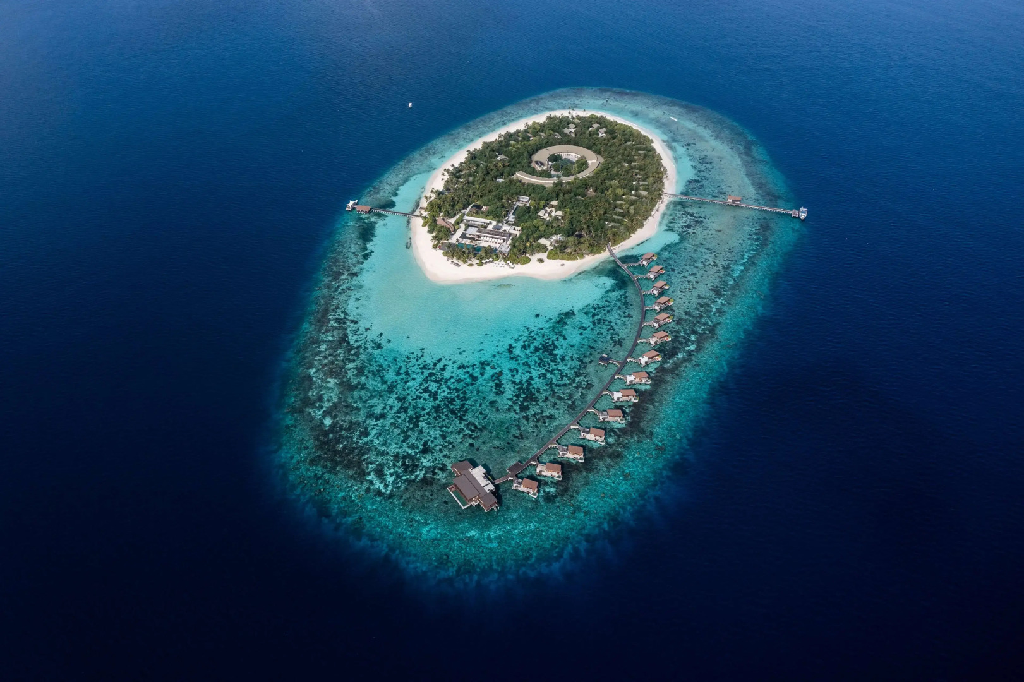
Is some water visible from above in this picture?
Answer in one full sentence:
Yes, there is water in the image.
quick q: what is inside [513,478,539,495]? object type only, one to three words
house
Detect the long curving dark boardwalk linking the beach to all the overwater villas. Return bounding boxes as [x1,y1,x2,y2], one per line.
[492,243,645,485]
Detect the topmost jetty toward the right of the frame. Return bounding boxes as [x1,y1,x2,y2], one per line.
[662,193,793,215]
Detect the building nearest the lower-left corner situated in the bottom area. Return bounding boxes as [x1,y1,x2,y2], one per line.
[447,460,499,514]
